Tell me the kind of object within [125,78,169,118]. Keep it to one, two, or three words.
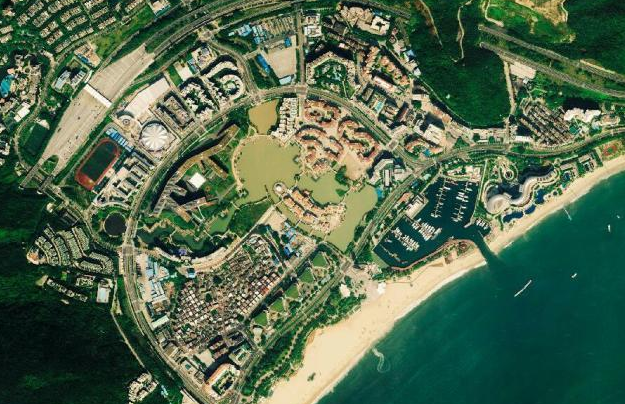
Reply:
building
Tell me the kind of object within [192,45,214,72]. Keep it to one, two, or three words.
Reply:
building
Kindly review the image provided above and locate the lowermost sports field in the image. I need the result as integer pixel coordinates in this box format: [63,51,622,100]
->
[79,145,115,184]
